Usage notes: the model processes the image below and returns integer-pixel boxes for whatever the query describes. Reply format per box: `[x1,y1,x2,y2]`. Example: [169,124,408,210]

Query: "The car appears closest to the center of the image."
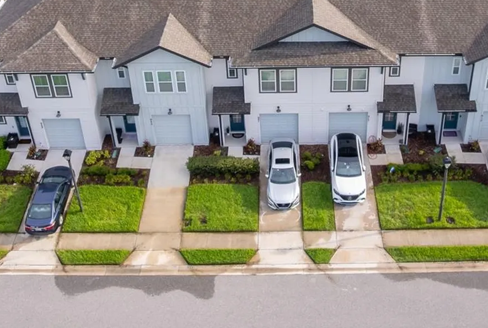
[264,140,302,206]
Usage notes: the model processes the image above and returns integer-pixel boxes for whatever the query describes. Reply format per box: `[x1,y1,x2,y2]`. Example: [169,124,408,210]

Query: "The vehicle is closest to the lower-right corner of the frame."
[329,133,368,200]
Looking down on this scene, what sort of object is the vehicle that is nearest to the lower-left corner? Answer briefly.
car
